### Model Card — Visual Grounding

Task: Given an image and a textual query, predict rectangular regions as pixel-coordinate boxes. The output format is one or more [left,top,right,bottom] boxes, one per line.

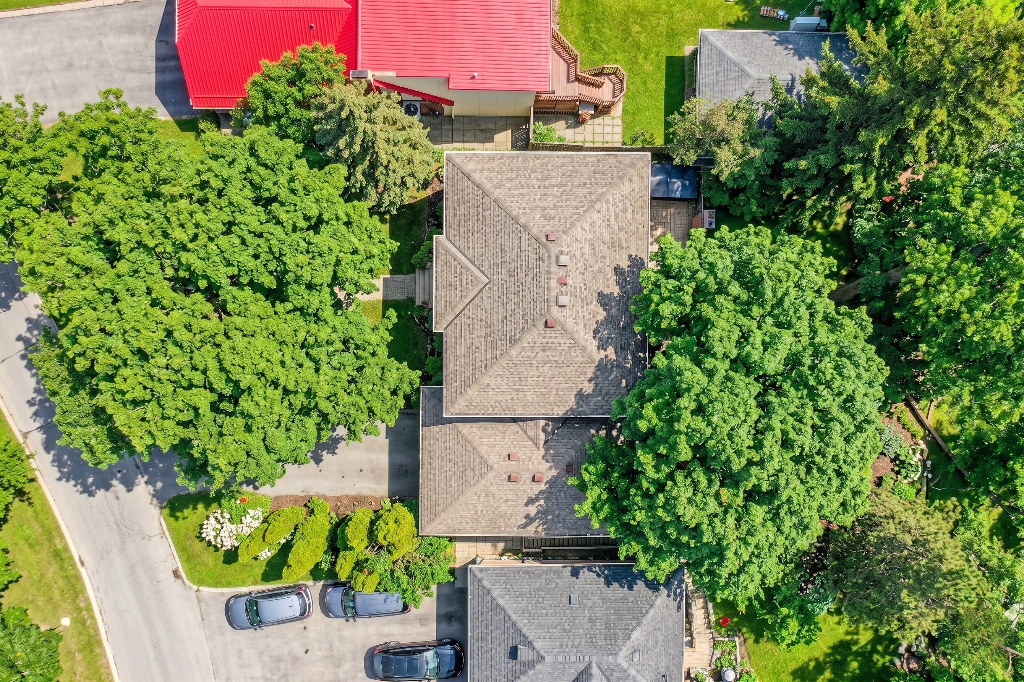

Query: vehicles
[227,583,317,636]
[323,579,415,627]
[372,637,463,682]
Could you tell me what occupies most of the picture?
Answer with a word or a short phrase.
trees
